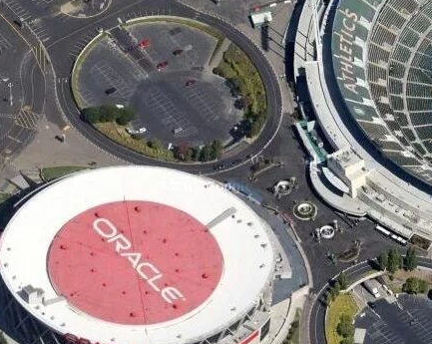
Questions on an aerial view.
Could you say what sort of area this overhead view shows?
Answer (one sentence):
This image shows a sports ground.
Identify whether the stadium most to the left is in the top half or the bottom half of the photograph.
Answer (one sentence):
Seen from above, the stadium most to the left lies in the bottom half of the view.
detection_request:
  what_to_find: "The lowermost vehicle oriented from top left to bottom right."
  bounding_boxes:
[368,280,381,294]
